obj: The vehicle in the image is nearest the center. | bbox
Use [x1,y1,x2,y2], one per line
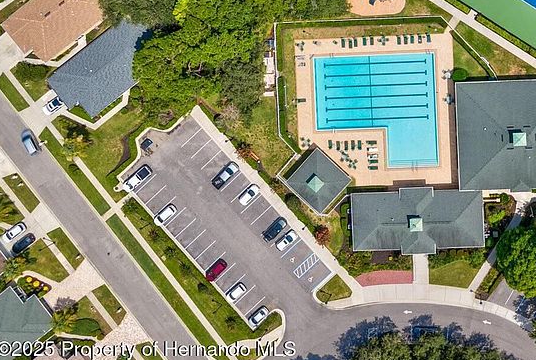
[238,184,261,205]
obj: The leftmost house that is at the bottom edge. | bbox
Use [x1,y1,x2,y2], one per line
[0,284,59,360]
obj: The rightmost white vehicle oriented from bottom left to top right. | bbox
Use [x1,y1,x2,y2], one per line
[275,229,299,251]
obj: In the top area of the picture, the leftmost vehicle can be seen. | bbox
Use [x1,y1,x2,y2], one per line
[21,129,42,156]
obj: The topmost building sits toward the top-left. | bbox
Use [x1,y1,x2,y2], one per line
[3,0,117,64]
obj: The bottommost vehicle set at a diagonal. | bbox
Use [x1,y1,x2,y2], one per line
[248,306,270,327]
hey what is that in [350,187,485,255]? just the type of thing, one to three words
building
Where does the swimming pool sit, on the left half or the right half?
right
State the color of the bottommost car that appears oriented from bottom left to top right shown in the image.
white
